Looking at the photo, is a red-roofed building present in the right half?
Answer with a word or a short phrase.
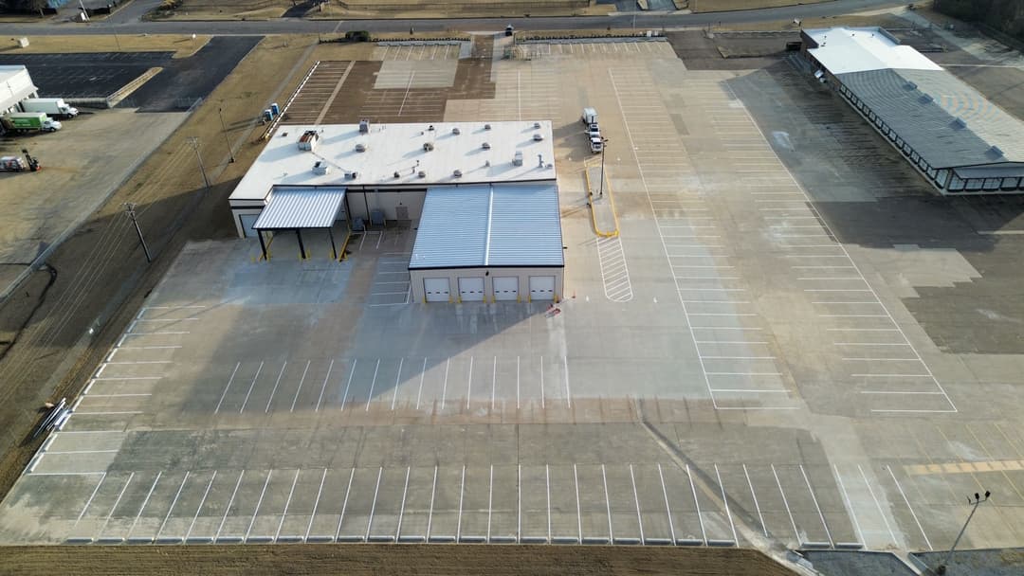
No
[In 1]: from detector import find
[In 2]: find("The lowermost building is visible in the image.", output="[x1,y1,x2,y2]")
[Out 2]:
[406,183,567,303]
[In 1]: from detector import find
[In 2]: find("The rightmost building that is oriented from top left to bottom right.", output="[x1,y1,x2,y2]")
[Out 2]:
[796,27,1024,194]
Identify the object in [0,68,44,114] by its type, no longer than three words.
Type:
building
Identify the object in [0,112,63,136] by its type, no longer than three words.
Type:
truck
